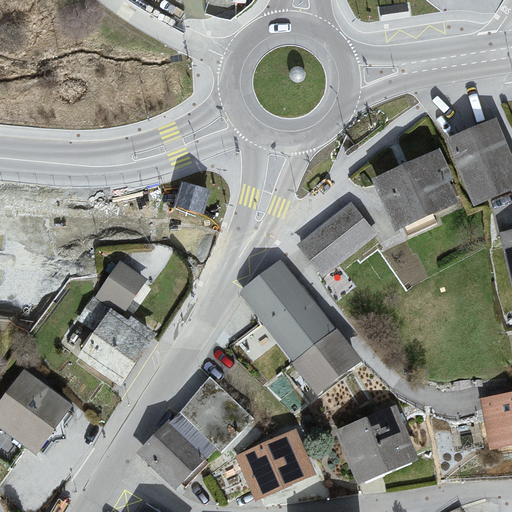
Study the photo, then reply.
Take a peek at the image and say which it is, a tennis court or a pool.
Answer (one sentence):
Of the two, only a pool appears.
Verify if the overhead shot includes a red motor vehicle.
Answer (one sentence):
Yes, there's a red motor vehicle here.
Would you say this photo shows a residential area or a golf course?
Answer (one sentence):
What you see here is a residential area.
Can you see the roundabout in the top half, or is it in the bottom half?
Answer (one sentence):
The roundabout is in the top half of the image.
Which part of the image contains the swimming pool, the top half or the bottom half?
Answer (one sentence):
The swimming pool is in the bottom half of the image.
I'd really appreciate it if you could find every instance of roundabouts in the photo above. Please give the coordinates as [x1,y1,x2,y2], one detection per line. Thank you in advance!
[218,9,362,155]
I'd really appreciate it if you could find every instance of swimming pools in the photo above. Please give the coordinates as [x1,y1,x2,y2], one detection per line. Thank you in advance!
[266,374,309,415]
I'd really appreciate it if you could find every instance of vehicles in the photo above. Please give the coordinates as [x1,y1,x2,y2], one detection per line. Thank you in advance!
[430,94,453,118]
[268,22,291,34]
[160,0,186,21]
[468,88,482,122]
[190,482,210,504]
[213,350,235,369]
[490,194,512,208]
[313,178,338,195]
[434,114,452,136]
[84,422,100,444]
[138,0,158,12]
[204,361,224,380]
[235,492,254,506]
[52,496,72,512]
[156,409,175,430]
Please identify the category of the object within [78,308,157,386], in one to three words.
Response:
house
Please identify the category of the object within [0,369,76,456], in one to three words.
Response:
house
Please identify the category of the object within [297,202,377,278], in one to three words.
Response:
shed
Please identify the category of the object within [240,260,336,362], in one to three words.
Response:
building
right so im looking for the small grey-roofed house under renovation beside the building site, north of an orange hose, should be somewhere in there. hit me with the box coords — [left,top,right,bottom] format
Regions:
[175,182,211,214]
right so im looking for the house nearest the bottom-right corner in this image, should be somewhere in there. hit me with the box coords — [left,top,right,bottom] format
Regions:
[480,391,512,450]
